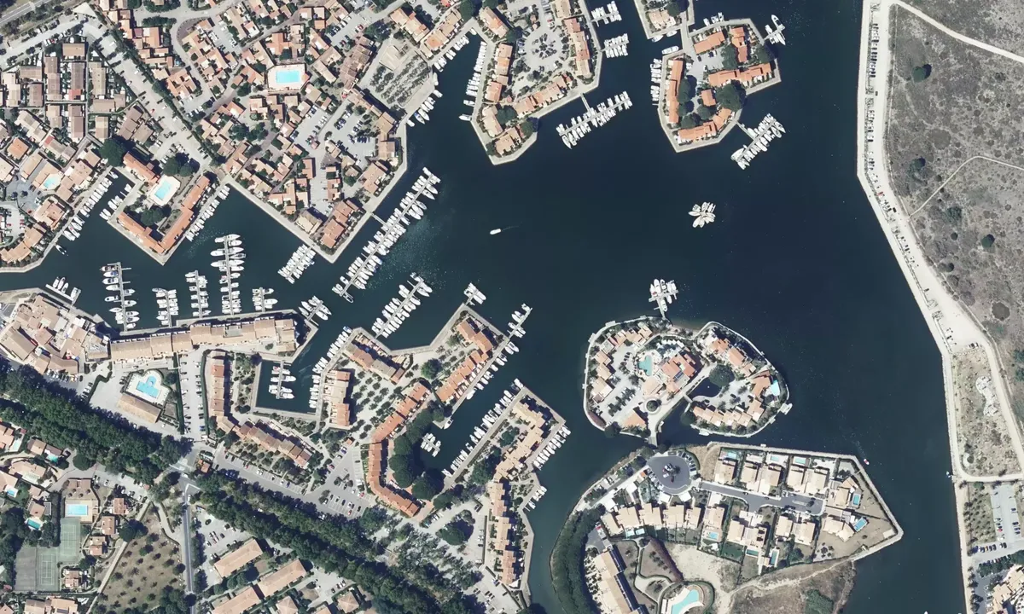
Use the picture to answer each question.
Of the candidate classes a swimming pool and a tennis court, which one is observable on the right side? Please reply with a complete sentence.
The feature located on the right side is a swimming pool.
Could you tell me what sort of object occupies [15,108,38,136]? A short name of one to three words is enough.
house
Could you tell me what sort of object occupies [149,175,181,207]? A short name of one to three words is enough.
swimming pool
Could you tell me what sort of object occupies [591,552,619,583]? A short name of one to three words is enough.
building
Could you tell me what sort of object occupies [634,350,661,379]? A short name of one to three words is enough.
swimming pool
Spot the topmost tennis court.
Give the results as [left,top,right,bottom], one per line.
[59,517,81,563]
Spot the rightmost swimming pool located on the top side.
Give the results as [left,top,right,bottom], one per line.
[268,64,307,90]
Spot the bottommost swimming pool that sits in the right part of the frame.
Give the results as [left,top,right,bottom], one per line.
[665,586,704,614]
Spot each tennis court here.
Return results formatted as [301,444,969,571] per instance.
[36,547,59,591]
[59,517,81,563]
[14,547,36,591]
